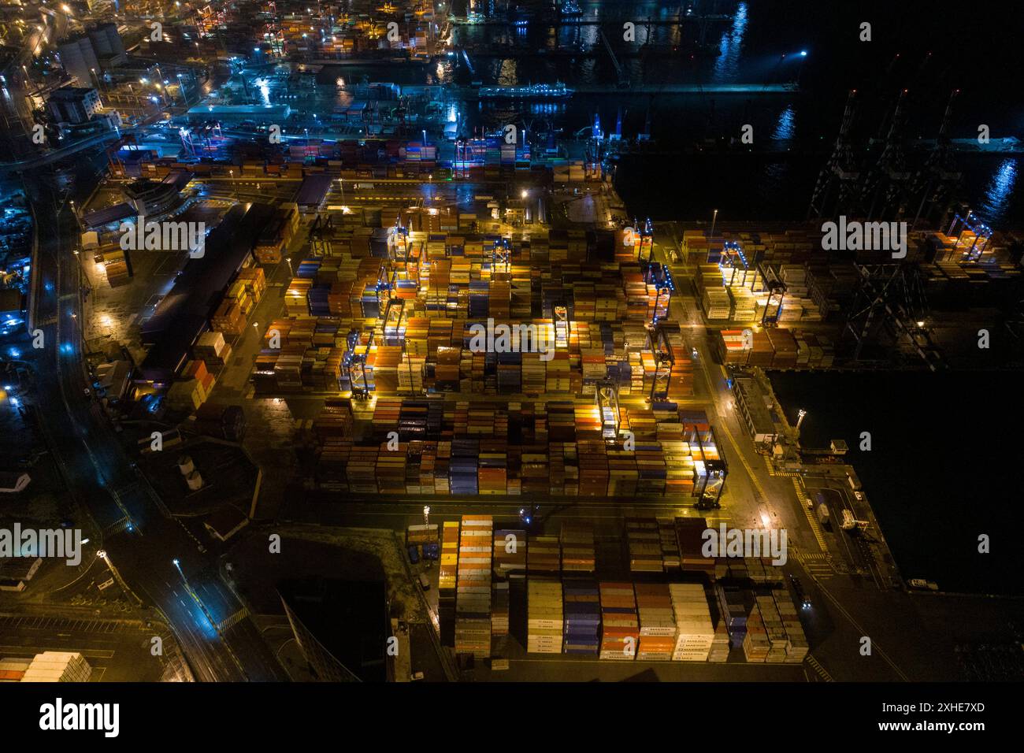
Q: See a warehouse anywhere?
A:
Yes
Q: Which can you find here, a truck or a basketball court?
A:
truck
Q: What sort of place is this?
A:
port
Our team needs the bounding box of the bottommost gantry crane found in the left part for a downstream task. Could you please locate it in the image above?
[344,332,376,398]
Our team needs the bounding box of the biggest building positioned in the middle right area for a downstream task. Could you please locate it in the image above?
[733,371,780,443]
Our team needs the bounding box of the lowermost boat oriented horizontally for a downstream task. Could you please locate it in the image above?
[903,574,940,590]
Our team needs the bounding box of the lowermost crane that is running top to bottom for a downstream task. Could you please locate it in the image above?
[695,422,736,506]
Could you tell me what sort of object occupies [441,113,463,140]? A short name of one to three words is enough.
shed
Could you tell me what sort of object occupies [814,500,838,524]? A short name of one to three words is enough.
truck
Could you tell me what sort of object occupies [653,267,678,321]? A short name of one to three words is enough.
container crane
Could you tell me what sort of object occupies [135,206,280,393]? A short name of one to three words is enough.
warehouse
